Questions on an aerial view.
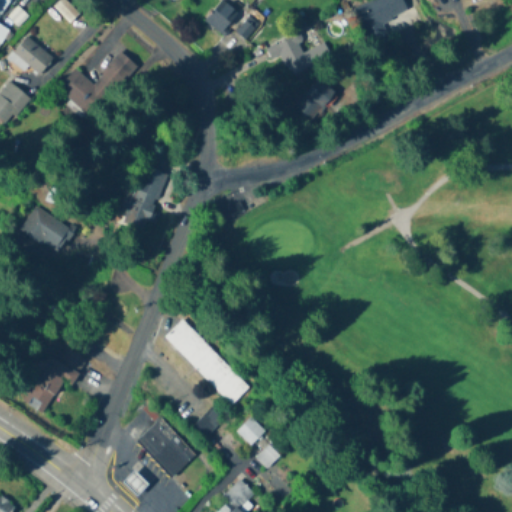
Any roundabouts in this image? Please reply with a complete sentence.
No, there isn't any roundabout down there.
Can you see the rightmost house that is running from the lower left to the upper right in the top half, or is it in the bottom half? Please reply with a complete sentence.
It is in the top half that the rightmost house that is running from the lower left to the upper right appears.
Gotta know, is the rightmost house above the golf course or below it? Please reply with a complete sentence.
Within the scene, the rightmost house can be found above the golf course.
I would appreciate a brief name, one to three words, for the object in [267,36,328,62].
house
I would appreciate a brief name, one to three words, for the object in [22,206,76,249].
house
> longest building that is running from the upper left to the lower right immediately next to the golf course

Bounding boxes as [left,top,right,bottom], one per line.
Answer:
[166,320,250,403]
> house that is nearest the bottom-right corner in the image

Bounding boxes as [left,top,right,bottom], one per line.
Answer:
[256,444,282,470]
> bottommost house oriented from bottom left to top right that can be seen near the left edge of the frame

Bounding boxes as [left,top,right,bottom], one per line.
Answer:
[26,370,78,412]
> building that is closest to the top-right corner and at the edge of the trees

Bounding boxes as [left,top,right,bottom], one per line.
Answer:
[354,0,414,34]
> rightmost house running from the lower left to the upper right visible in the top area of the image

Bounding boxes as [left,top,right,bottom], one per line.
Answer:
[302,88,336,116]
